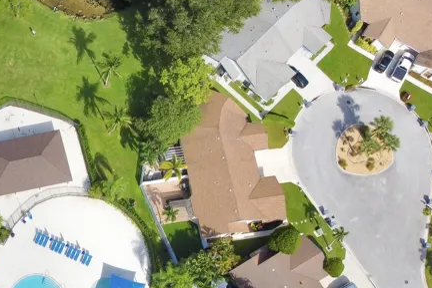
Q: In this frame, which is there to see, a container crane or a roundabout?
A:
roundabout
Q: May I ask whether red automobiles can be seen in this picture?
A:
No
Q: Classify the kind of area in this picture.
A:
residential area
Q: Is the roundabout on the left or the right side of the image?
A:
right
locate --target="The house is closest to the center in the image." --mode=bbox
[180,90,285,238]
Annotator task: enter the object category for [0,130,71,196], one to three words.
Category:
building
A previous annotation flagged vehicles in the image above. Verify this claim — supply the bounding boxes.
[290,62,312,89]
[342,281,360,288]
[388,52,415,78]
[373,49,396,72]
